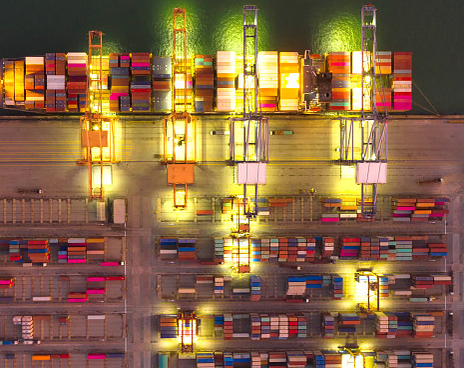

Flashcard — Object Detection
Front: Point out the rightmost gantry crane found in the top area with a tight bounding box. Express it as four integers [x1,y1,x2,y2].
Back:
[334,5,392,218]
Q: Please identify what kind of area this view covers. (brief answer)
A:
port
